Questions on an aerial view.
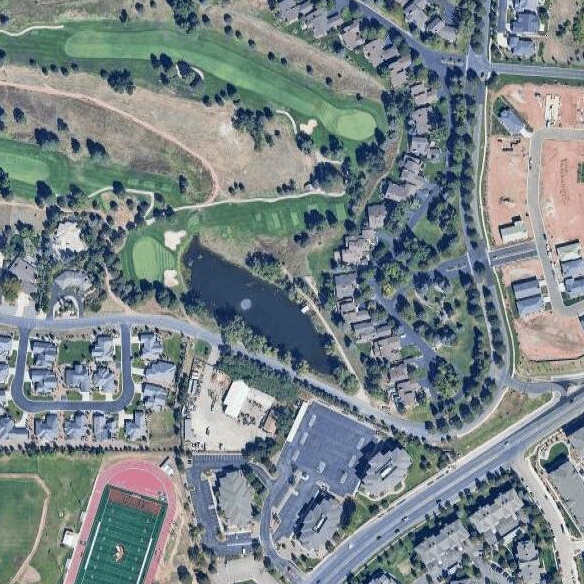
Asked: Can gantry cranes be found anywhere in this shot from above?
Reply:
No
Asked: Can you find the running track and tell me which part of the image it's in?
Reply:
bottom left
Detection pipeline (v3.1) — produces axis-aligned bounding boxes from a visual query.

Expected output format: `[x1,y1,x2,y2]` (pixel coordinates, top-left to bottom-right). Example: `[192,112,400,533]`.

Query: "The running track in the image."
[66,463,176,584]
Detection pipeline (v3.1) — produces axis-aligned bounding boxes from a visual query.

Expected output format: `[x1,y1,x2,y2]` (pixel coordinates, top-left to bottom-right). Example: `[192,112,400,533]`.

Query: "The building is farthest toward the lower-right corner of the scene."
[518,555,542,584]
